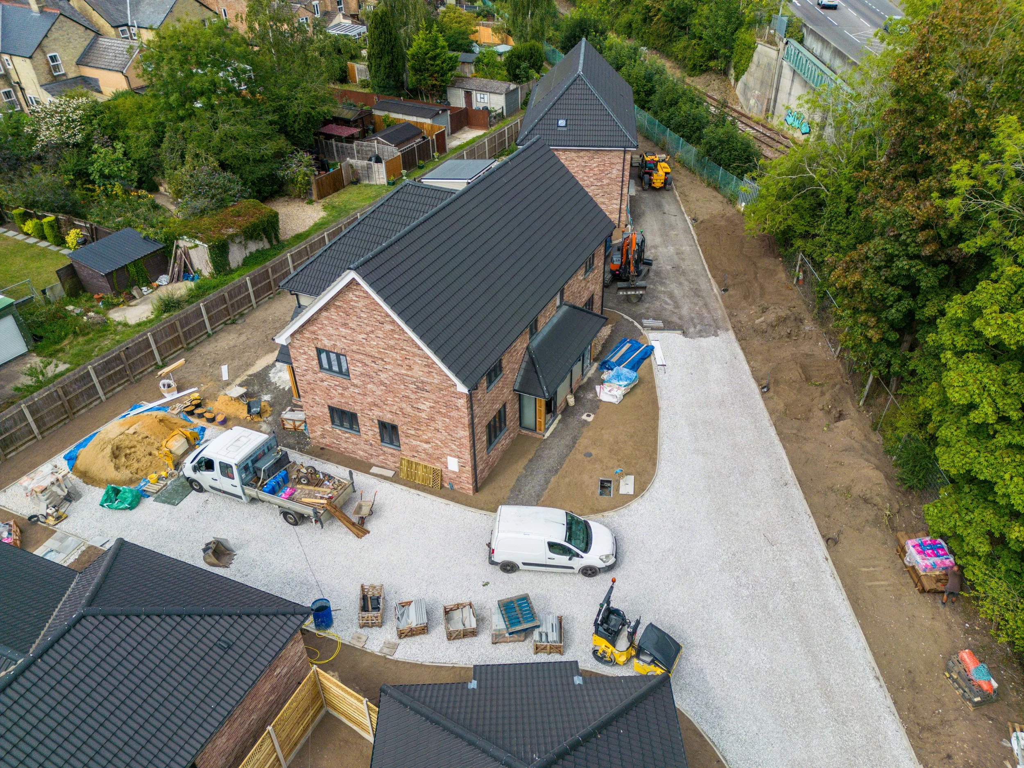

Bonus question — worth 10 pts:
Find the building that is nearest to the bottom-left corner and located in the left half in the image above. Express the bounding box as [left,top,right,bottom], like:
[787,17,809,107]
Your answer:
[0,532,313,768]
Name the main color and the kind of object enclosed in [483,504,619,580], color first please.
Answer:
white van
